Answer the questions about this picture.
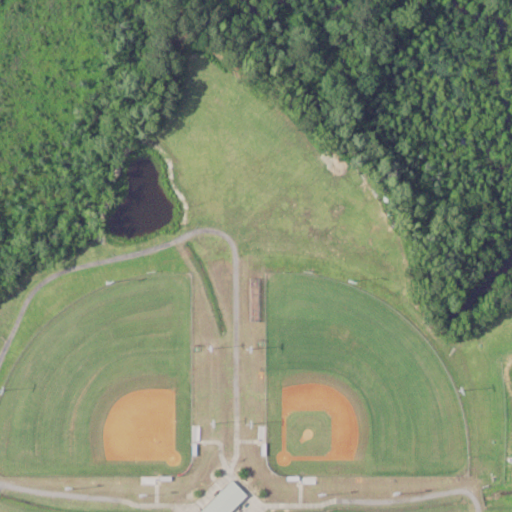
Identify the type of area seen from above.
sports ground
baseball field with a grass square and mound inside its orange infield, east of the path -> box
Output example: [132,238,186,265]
[266,272,470,476]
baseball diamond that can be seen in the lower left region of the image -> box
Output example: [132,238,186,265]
[0,272,192,474]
